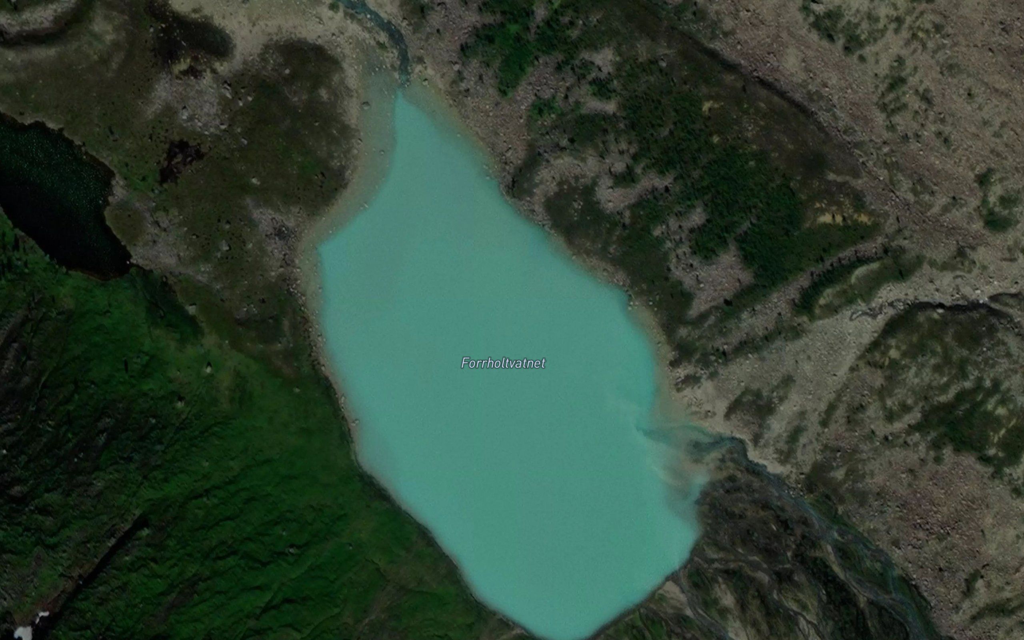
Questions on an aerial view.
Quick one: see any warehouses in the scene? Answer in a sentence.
No, there appears to be no warehouse in this shot.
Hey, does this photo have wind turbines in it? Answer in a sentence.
No, the picture doesn't show any wind turbine.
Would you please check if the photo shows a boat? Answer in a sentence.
No, there isn't any boat down there.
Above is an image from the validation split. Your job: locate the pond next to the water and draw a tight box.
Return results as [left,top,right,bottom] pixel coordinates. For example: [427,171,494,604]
[0,111,134,280]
